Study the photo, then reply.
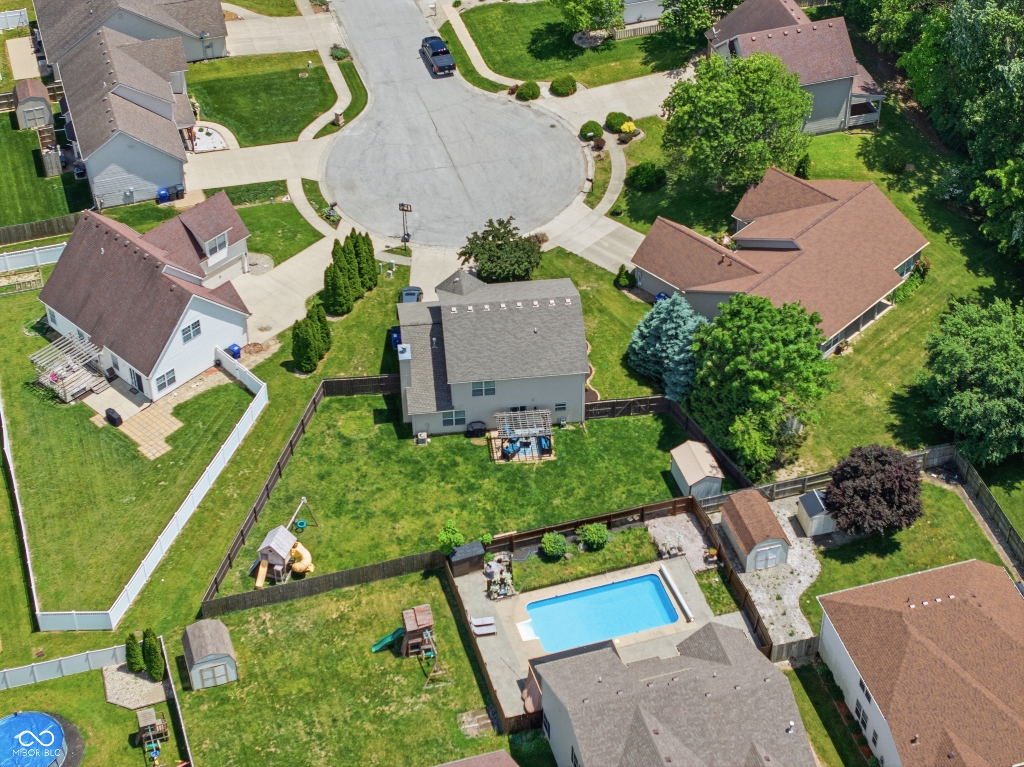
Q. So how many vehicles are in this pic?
2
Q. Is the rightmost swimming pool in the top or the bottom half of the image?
bottom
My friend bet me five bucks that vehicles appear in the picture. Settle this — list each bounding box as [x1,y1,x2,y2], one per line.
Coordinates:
[396,285,424,325]
[416,38,456,79]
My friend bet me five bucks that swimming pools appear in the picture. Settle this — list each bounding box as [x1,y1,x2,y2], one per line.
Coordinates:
[516,573,679,653]
[0,720,70,767]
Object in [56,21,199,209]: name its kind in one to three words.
house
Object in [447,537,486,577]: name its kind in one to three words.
shed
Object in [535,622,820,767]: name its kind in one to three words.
house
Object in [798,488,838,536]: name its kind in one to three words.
shed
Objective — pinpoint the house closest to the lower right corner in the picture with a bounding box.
[816,559,1024,767]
